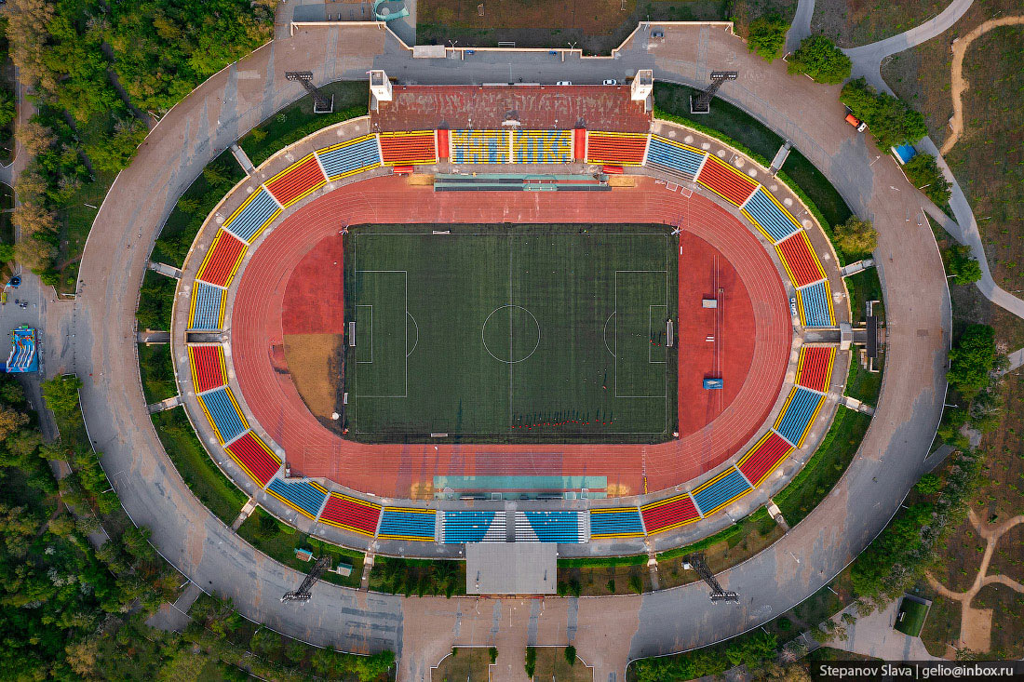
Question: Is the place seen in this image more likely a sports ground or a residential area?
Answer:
sports ground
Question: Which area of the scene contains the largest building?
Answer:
bottom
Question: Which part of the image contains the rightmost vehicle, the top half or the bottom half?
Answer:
top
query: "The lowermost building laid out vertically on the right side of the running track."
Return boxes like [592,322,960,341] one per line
[866,300,881,373]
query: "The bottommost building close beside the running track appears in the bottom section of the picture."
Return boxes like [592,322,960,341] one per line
[466,540,557,600]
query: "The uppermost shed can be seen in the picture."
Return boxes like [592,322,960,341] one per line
[414,45,445,60]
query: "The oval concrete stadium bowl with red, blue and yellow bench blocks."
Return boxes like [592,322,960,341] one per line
[170,115,852,560]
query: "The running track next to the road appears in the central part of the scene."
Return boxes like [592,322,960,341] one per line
[232,173,792,500]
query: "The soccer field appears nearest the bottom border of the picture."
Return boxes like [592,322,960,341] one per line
[344,224,678,444]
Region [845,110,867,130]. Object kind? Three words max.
vehicle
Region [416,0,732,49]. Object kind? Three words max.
sports field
